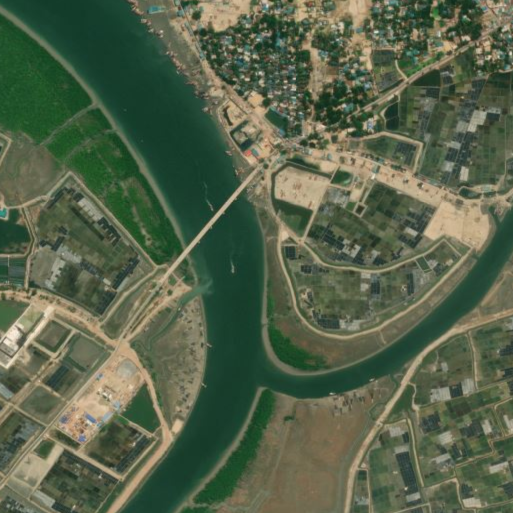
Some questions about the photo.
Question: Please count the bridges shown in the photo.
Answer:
1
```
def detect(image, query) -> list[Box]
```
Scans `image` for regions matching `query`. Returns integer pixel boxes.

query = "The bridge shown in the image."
[160,162,265,279]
